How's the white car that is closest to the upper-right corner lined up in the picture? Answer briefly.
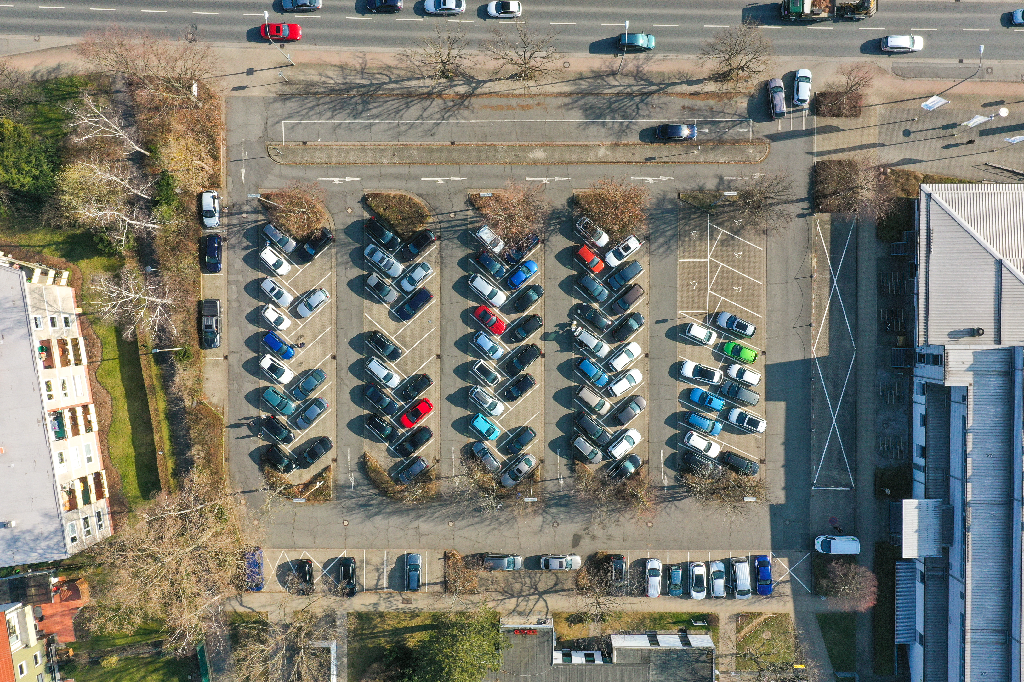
from side to side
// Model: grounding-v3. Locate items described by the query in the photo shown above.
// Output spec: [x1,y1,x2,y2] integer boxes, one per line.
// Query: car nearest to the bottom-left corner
[246,546,266,592]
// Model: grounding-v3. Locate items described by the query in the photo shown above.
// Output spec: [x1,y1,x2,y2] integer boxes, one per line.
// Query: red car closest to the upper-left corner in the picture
[260,21,303,41]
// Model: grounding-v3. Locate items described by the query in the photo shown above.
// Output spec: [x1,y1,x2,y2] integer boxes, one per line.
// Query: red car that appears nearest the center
[473,304,506,335]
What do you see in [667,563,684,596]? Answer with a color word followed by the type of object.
blue car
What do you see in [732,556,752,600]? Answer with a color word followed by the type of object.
white vehicle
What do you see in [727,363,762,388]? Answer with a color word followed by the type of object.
white car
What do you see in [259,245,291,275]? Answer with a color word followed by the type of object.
white car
